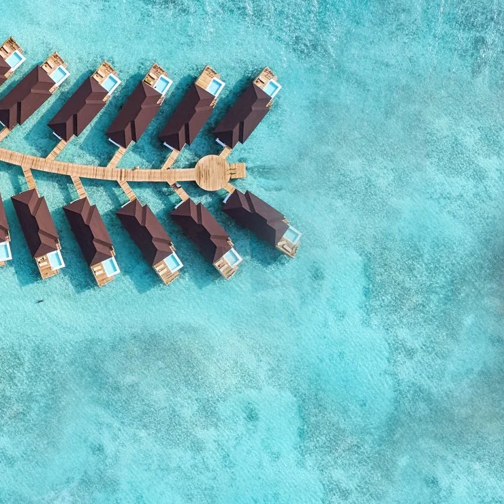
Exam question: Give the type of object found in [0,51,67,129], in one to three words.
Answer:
house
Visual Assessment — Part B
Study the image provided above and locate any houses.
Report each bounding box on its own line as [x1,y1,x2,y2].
[0,35,23,87]
[115,199,179,285]
[158,67,220,152]
[63,197,115,287]
[0,190,11,242]
[11,188,60,279]
[168,197,239,280]
[0,51,67,129]
[47,61,118,142]
[105,64,169,149]
[219,189,300,262]
[209,65,278,148]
